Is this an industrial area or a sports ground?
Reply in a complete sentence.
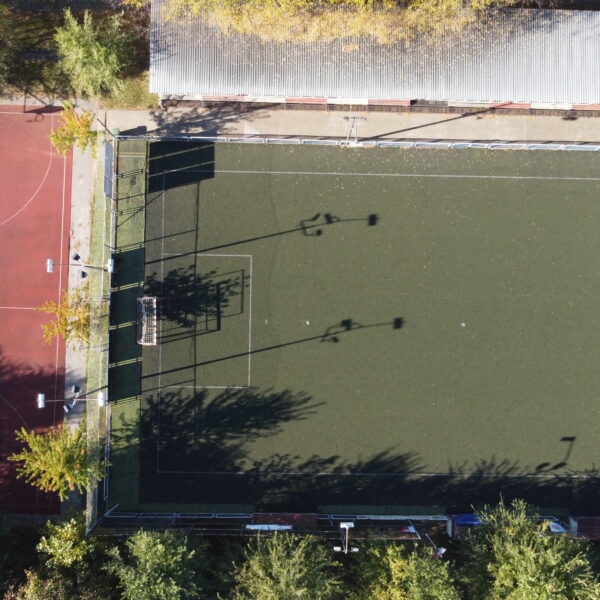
The area seen from above is a sports ground.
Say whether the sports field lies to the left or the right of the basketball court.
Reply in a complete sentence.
In the image, the sports field sits on the right side of the basketball court.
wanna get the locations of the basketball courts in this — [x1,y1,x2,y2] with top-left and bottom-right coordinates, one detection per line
[0,105,74,513]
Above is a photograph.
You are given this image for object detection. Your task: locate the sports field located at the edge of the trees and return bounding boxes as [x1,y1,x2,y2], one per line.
[103,141,600,521]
